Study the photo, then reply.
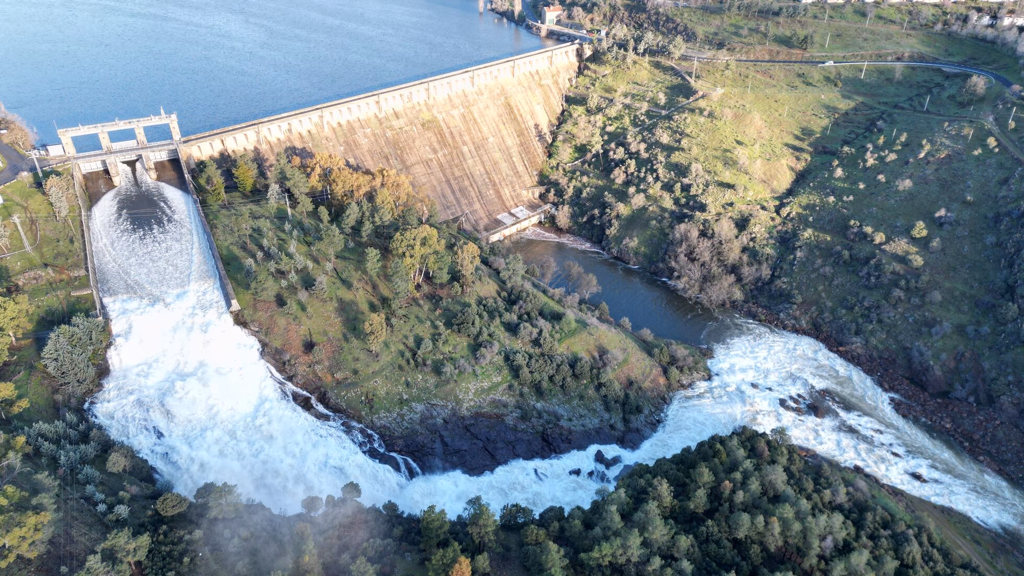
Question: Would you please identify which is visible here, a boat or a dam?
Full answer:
It is a dam that can be seen here.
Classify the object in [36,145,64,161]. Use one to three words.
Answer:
building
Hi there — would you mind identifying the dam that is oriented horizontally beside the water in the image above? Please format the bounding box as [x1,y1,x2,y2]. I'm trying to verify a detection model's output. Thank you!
[178,37,588,241]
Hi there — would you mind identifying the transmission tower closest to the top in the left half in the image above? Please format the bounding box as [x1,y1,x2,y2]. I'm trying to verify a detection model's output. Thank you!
[28,151,46,185]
